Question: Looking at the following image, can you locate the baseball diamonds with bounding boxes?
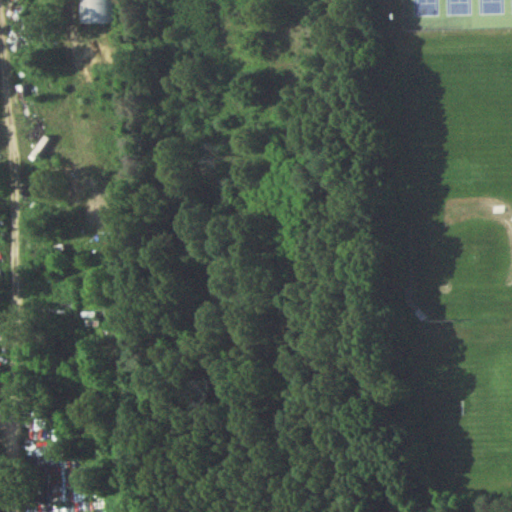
[436,196,512,293]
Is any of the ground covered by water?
No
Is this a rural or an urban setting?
rural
